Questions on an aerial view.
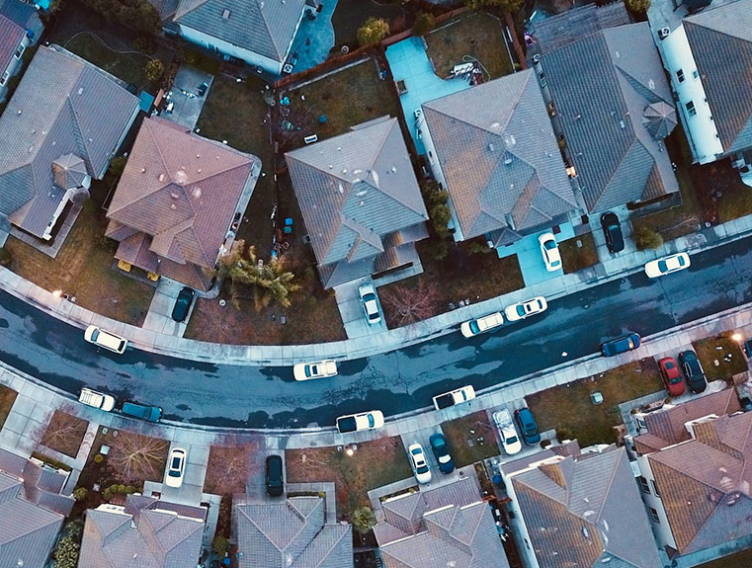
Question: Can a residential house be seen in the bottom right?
Yes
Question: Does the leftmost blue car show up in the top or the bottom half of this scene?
bottom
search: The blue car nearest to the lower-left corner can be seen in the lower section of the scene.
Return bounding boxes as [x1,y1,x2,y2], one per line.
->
[119,399,165,421]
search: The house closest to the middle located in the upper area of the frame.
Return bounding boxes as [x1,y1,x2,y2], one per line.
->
[284,117,431,290]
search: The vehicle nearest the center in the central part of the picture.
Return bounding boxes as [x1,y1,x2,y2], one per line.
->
[359,282,382,326]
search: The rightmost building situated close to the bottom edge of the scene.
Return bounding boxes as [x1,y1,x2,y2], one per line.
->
[628,386,752,555]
